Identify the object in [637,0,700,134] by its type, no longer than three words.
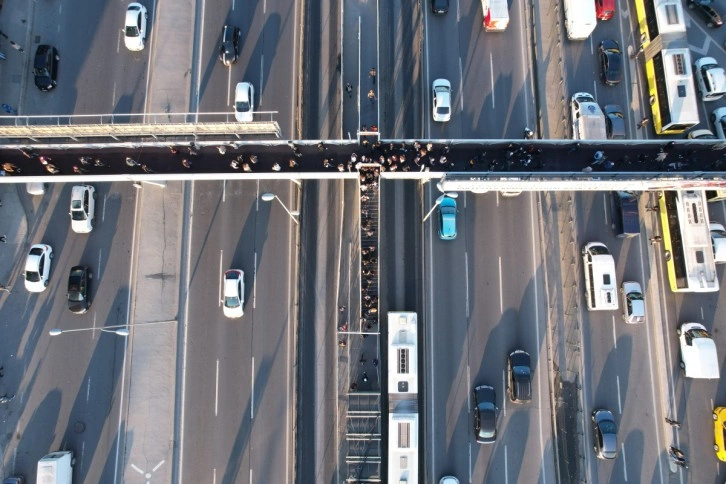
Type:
bus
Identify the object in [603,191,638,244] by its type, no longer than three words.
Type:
truck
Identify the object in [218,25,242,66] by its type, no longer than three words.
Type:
car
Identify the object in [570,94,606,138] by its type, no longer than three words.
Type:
van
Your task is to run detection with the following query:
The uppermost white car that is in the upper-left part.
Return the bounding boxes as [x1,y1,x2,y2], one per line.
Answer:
[121,4,148,51]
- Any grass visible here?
No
